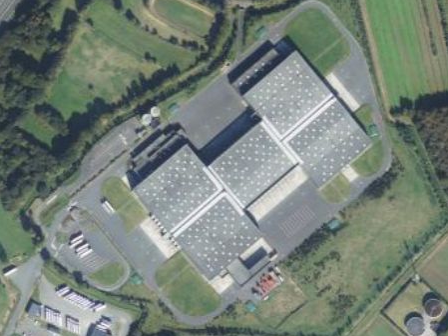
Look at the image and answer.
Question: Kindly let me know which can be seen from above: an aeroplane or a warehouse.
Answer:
warehouse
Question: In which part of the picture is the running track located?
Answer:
top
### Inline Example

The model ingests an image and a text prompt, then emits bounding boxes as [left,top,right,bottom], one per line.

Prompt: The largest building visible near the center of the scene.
[133,51,372,281]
